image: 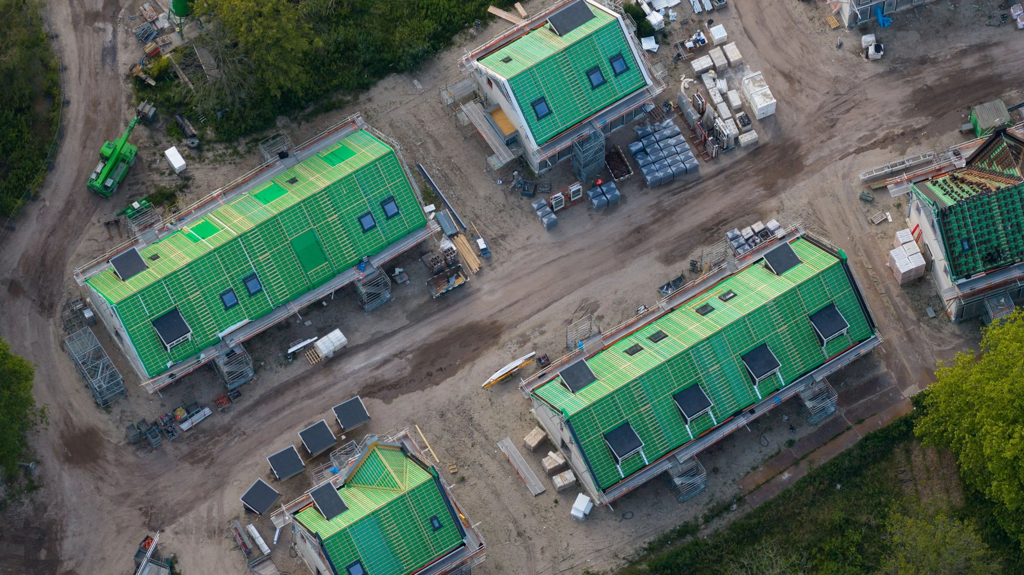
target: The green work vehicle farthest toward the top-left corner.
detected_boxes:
[86,101,155,199]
